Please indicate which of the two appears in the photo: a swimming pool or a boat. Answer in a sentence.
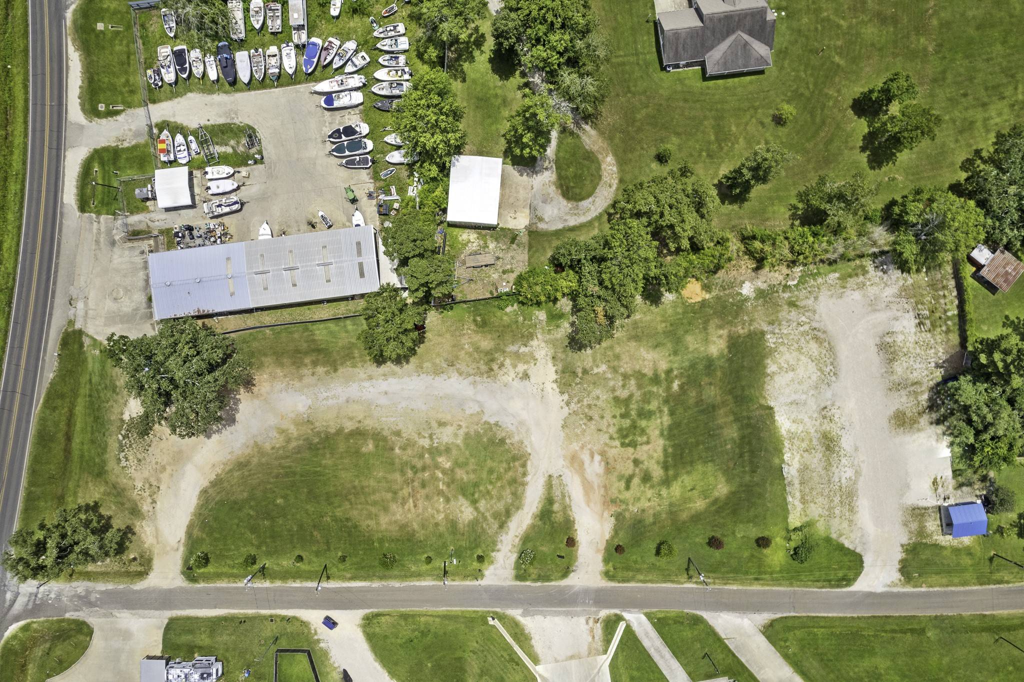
Of the two, only a boat appears.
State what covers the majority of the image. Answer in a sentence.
The bulk of the photo consists of grass.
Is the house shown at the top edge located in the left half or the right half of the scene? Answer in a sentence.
It is on the right.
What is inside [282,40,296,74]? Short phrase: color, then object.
white boat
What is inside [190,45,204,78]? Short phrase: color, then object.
white boat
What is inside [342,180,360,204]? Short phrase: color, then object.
green work vehicle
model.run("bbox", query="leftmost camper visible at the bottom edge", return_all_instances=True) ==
[166,658,226,682]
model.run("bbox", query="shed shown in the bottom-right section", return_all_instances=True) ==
[943,502,987,538]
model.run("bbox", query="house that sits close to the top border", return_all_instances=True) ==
[657,0,776,78]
